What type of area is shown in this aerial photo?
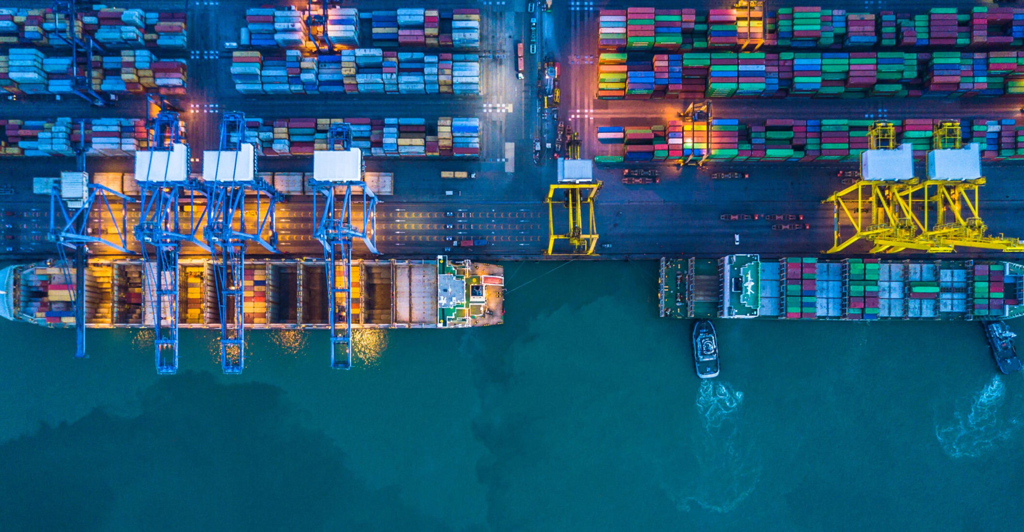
port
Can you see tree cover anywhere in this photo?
No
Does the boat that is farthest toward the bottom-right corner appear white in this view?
No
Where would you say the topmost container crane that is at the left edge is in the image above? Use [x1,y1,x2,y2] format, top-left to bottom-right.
[50,0,92,53]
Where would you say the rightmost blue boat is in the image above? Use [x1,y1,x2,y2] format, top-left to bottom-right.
[983,319,1024,378]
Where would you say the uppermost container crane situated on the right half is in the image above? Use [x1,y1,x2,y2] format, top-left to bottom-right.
[735,0,766,53]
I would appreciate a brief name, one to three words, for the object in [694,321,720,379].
boat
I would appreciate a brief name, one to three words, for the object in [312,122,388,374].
container crane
